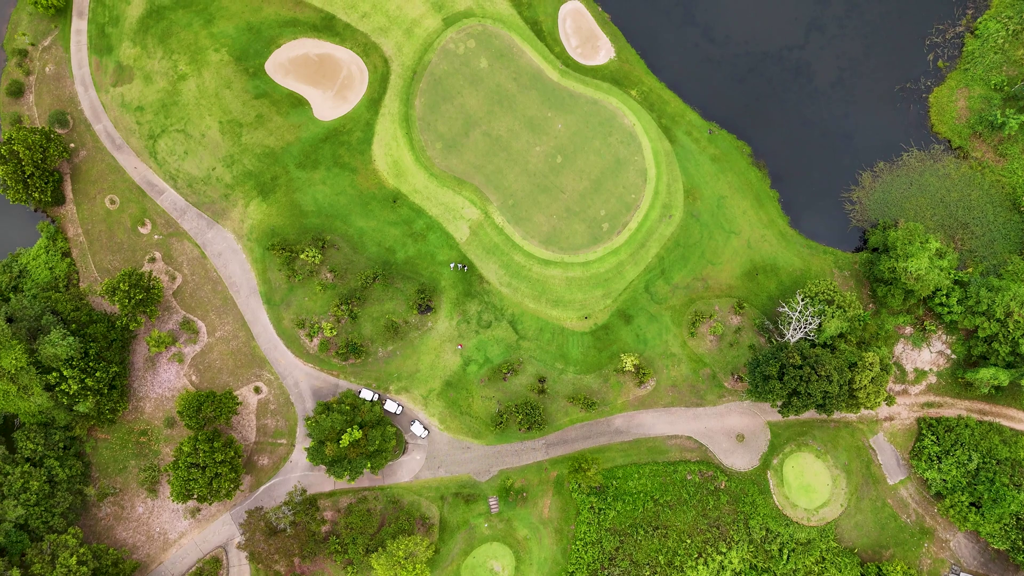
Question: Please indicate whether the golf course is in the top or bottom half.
top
